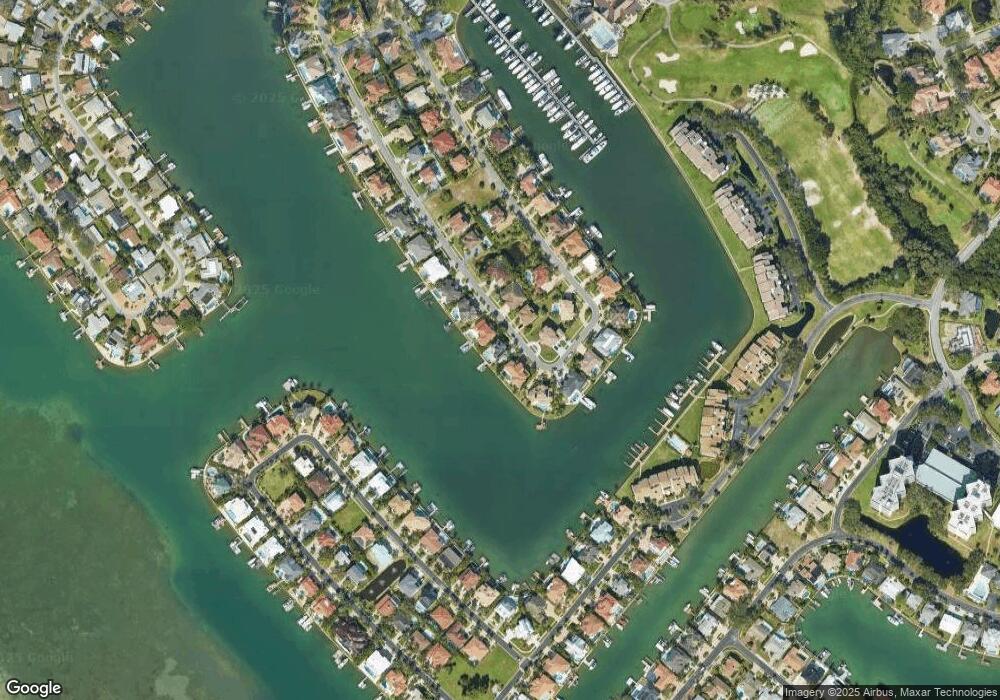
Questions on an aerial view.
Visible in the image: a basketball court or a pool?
pool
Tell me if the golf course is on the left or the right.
right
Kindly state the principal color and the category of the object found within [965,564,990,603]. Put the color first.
white swimming pool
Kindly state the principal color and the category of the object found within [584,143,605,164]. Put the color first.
white boat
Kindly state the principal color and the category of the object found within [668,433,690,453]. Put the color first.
white swimming pool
